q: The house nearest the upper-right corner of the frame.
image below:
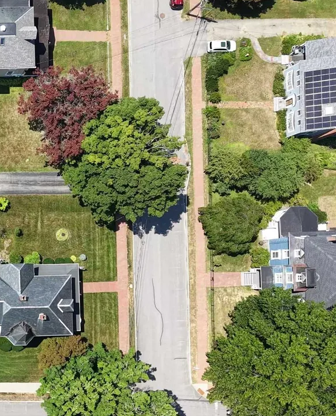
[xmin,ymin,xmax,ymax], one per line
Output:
[272,38,336,137]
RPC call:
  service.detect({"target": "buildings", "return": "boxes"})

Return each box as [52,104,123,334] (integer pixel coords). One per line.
[240,205,336,317]
[0,260,83,346]
[0,0,51,79]
[272,38,336,137]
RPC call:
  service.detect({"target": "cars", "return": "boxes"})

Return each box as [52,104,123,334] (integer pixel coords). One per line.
[206,39,236,54]
[169,0,184,12]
